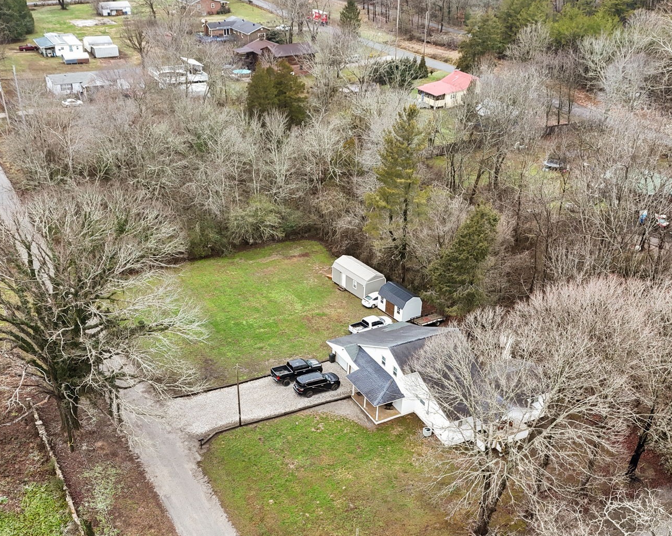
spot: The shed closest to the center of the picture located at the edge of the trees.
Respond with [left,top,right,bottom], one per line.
[330,251,386,298]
